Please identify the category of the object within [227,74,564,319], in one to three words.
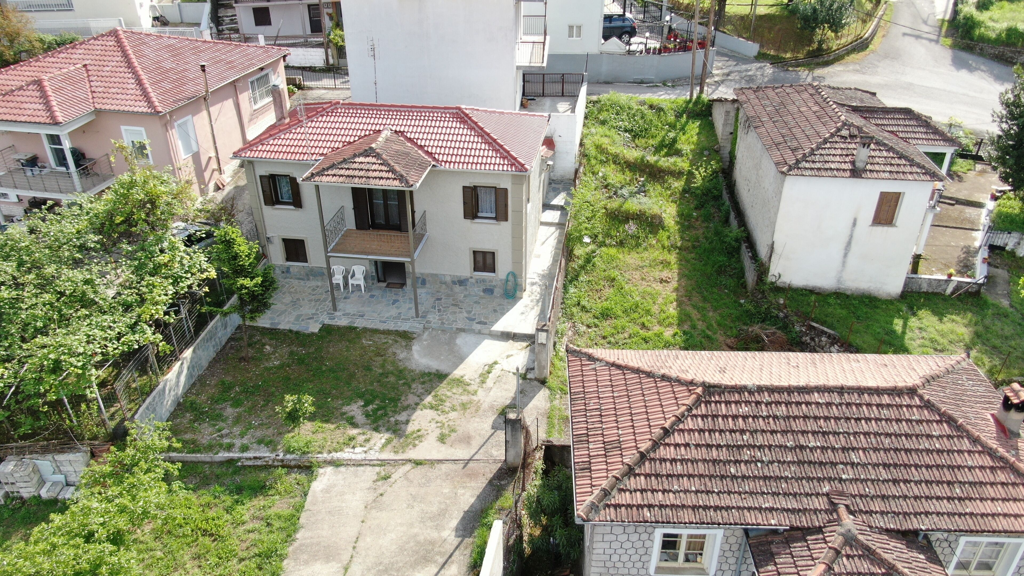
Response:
house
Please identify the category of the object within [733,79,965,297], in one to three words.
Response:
house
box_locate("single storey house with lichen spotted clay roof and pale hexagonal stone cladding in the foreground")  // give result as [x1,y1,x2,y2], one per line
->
[565,341,1024,576]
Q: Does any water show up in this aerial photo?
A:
No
